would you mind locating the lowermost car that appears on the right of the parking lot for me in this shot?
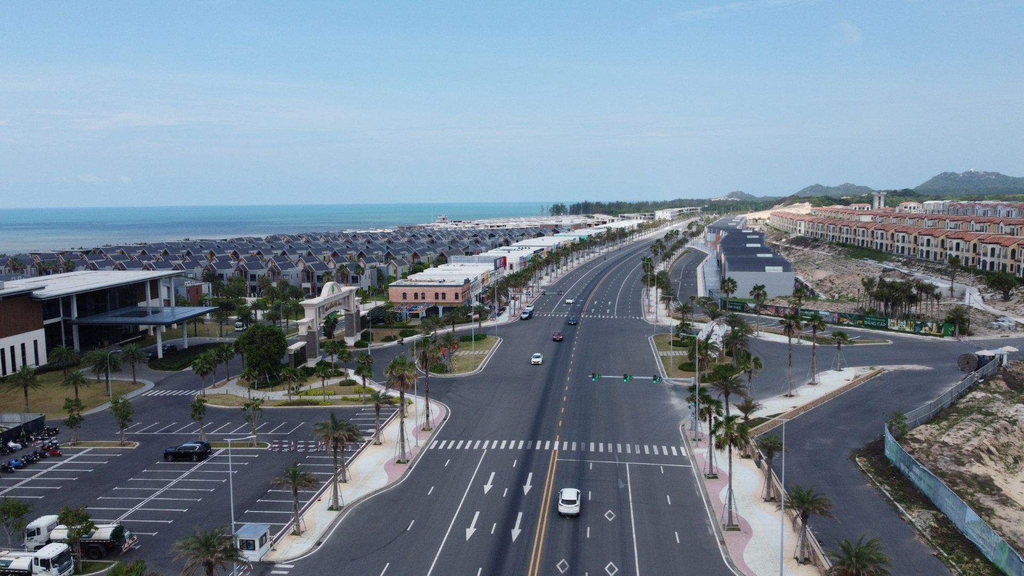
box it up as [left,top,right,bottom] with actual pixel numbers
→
[558,485,583,512]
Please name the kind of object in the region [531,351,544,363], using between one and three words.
vehicle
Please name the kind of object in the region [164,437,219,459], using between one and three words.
car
